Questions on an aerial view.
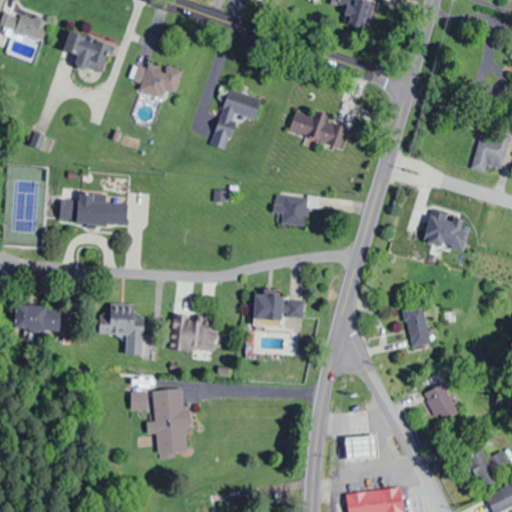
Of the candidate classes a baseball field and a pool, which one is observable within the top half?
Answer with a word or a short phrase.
pool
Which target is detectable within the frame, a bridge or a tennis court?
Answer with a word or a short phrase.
tennis court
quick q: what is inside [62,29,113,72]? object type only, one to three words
house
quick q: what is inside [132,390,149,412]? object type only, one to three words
building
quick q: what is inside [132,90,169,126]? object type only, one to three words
swimming pool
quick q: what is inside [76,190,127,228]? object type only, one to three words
house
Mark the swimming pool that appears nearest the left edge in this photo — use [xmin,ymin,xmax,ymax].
[3,26,42,64]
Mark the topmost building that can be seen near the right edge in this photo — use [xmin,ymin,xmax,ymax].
[471,138,512,172]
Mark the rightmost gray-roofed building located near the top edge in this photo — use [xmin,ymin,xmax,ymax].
[330,0,374,29]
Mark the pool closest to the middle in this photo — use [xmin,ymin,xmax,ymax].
[247,324,298,356]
